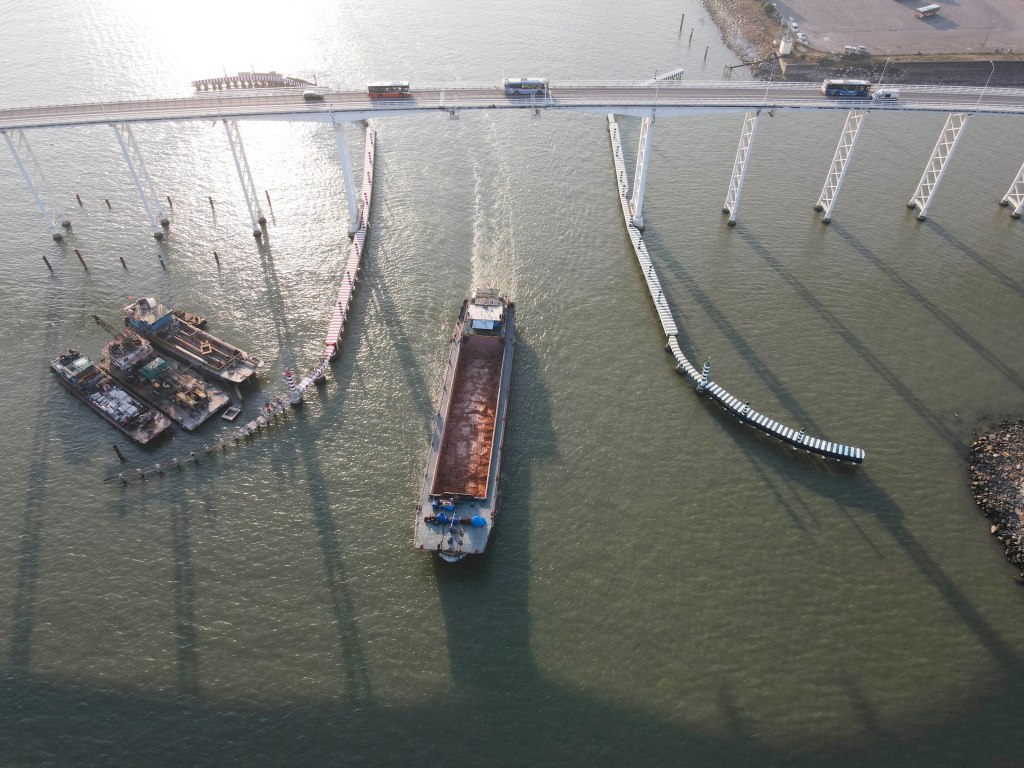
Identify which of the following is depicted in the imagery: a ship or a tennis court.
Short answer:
ship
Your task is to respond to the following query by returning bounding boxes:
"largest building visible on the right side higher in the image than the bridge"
[780,13,799,56]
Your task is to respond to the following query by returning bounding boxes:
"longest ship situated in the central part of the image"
[414,287,515,553]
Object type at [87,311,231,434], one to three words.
ship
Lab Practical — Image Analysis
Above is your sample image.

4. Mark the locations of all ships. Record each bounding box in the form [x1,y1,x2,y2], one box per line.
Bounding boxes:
[87,311,231,434]
[117,293,261,397]
[414,287,515,553]
[49,345,170,448]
